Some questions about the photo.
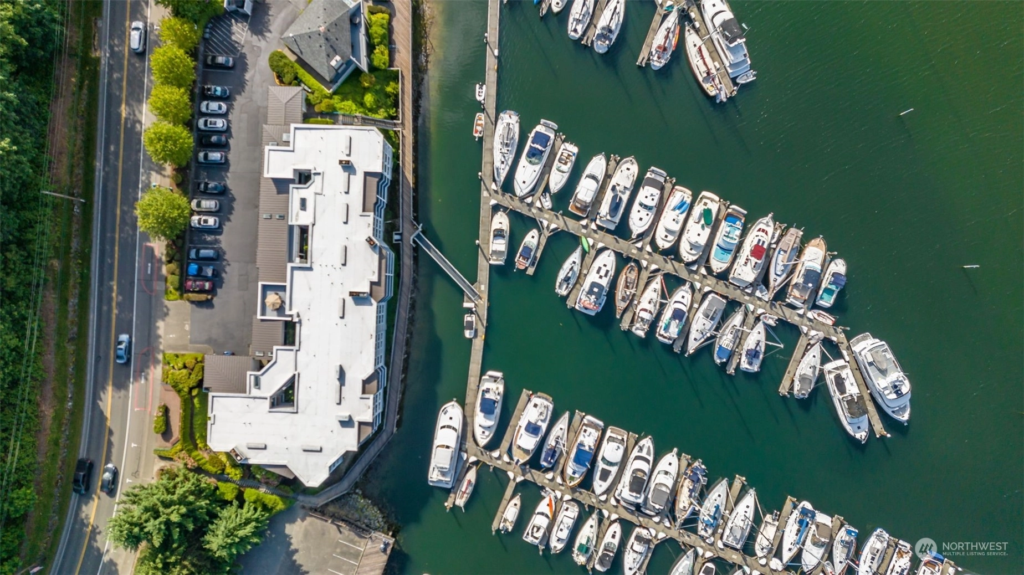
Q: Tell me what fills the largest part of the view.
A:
water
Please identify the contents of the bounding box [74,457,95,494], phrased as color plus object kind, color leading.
black truck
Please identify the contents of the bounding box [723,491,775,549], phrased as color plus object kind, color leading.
white boat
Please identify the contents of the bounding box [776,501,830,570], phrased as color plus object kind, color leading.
white boat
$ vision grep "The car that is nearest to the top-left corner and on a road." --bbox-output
[128,21,147,54]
